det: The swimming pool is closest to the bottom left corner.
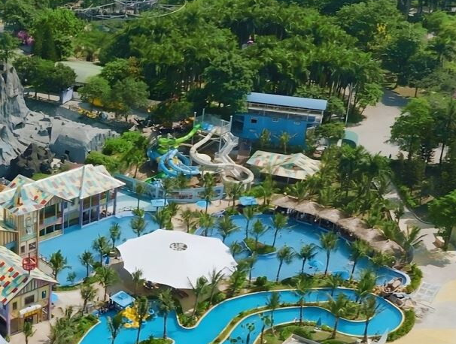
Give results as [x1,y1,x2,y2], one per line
[38,213,157,286]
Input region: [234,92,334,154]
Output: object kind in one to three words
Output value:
shed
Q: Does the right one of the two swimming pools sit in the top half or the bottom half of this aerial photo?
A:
bottom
